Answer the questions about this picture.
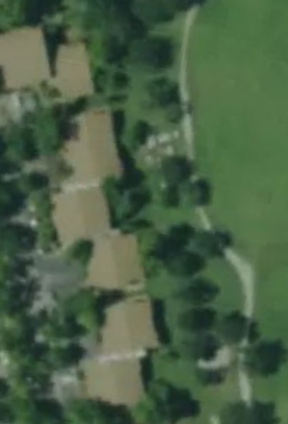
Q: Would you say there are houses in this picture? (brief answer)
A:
Yes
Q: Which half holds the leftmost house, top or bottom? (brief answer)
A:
top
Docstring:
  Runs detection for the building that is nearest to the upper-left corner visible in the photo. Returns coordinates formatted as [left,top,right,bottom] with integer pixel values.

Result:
[0,27,50,89]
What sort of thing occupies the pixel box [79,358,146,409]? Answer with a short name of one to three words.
house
